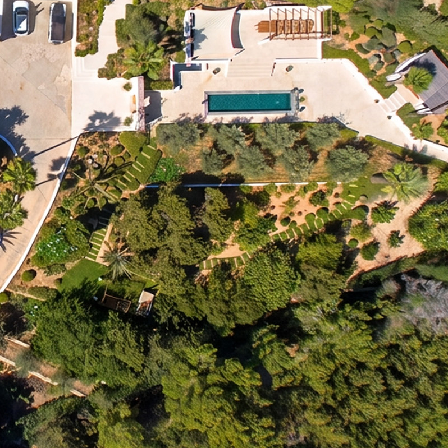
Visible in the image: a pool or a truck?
pool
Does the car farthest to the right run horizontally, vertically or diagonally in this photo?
vertically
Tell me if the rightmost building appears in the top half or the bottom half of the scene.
top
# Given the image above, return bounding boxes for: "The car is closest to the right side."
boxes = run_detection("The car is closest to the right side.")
[48,1,68,45]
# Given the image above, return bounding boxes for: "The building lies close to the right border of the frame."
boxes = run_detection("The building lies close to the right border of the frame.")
[395,49,448,113]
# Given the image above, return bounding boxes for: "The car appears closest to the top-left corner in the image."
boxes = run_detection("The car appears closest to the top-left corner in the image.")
[13,0,31,36]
